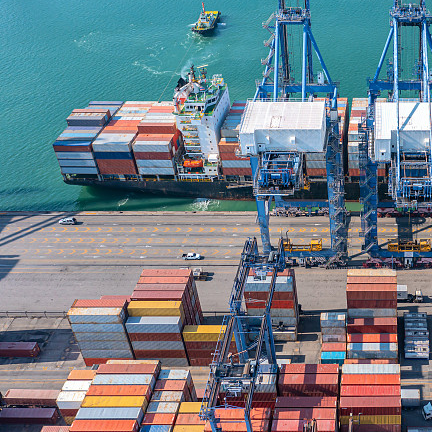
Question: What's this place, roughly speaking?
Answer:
port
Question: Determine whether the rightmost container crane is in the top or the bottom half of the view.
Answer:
top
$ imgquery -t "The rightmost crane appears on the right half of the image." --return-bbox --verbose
[358,0,432,266]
